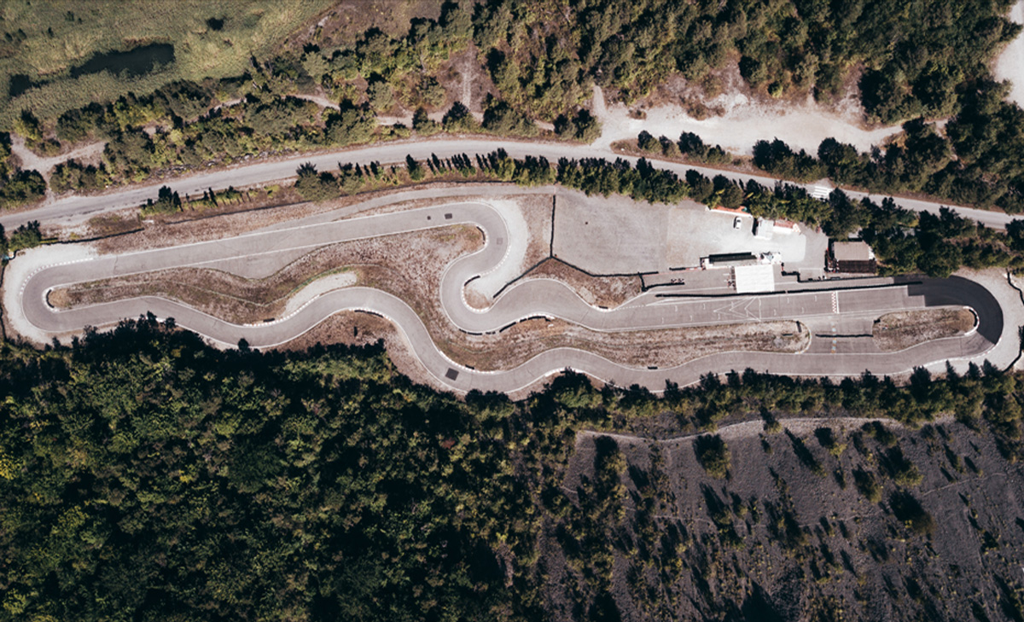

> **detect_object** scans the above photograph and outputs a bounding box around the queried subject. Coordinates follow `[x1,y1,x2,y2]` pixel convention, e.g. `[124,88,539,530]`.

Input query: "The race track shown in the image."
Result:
[21,202,1003,394]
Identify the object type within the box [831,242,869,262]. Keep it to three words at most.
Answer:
building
